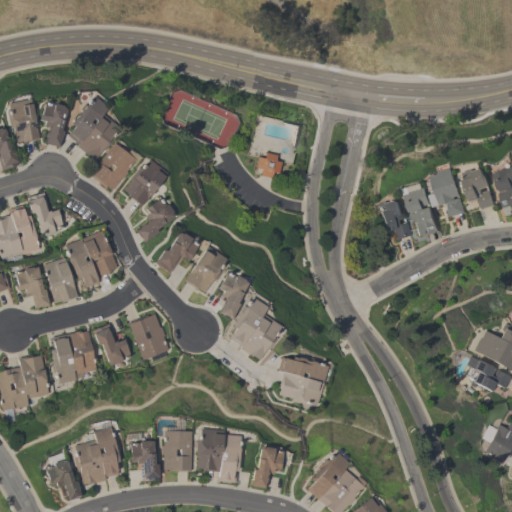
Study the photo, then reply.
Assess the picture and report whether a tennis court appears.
Yes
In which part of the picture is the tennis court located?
top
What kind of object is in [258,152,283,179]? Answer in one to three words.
building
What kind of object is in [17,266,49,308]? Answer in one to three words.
house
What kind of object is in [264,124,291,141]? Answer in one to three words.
swimming pool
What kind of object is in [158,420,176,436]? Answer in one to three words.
swimming pool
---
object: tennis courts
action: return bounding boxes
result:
[166,90,240,148]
